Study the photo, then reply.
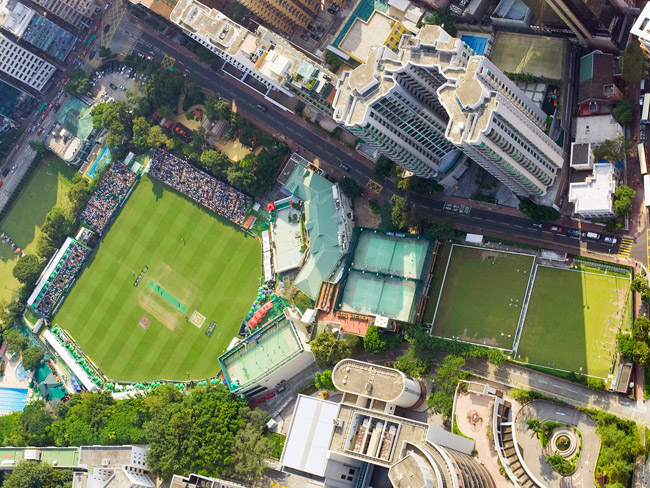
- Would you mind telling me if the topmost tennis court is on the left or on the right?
right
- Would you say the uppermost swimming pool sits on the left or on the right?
right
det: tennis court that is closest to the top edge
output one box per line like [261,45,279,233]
[489,29,569,79]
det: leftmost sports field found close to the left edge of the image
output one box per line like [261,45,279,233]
[0,164,74,320]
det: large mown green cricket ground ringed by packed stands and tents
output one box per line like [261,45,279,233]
[49,177,264,385]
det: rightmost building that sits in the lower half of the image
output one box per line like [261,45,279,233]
[616,366,636,394]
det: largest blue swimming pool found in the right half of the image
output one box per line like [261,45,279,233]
[458,32,491,56]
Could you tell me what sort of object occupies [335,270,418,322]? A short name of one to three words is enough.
tennis court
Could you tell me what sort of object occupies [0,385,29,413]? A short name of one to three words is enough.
swimming pool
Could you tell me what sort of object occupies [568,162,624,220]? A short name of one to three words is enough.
house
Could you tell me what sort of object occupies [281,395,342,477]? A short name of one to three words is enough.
building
